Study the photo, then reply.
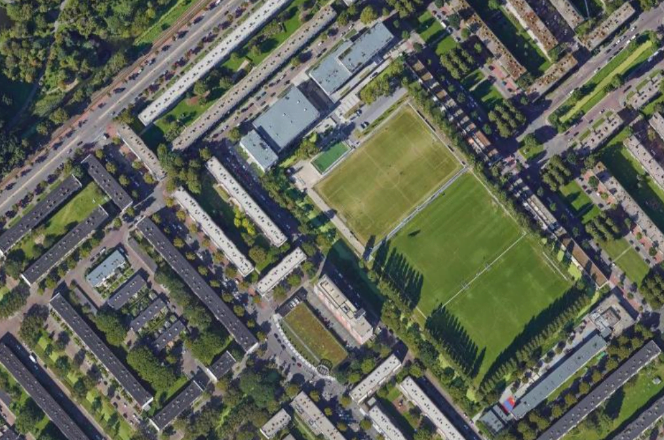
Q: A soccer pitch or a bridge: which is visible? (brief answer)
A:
soccer pitch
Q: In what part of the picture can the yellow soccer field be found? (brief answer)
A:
center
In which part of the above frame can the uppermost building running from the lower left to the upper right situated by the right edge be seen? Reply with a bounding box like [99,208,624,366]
[581,1,635,52]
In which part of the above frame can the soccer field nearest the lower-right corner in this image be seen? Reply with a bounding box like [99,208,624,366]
[424,232,586,387]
